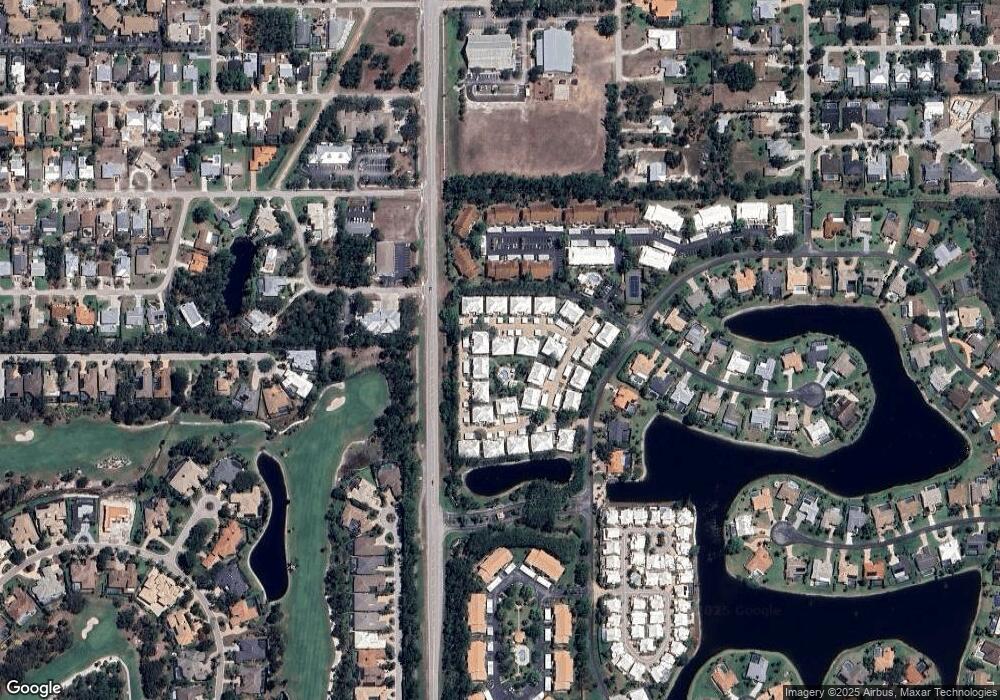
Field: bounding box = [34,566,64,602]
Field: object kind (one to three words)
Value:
house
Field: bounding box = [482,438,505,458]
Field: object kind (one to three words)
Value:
building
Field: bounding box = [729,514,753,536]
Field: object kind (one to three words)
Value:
house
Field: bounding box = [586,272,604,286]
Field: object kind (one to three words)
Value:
swimming pool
